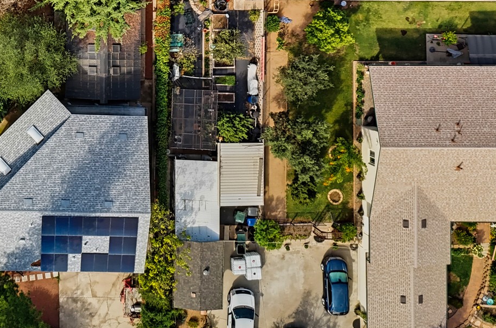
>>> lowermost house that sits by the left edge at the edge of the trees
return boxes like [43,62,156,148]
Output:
[0,92,151,273]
